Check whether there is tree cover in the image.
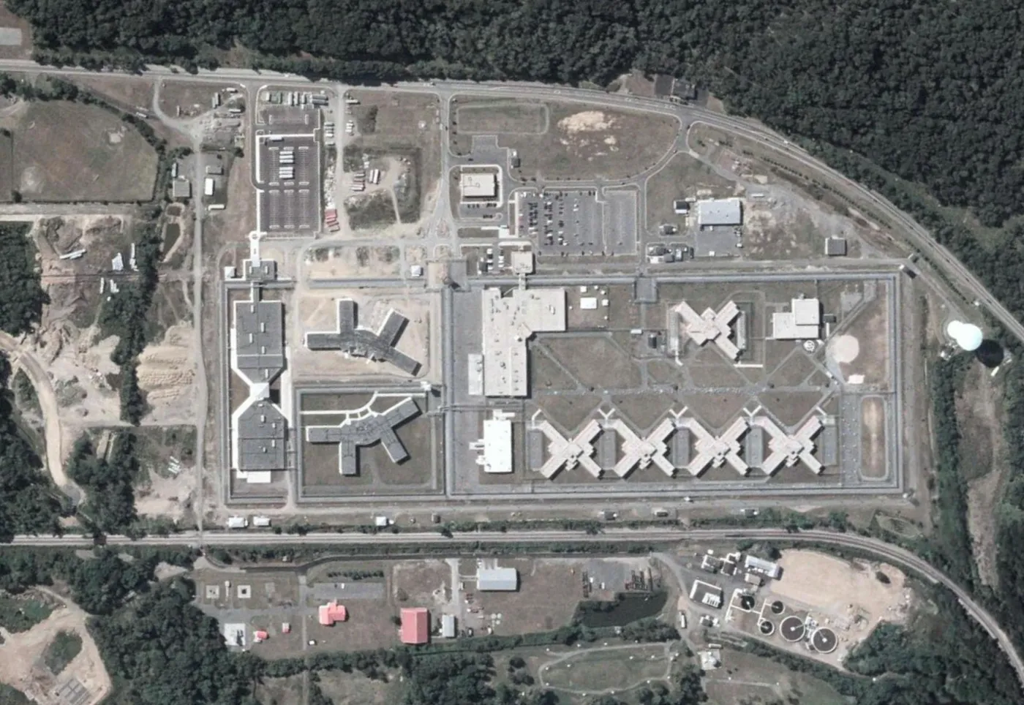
Yes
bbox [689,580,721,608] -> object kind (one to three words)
house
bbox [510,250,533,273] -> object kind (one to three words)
building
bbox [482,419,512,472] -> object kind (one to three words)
building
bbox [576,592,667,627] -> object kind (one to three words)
pond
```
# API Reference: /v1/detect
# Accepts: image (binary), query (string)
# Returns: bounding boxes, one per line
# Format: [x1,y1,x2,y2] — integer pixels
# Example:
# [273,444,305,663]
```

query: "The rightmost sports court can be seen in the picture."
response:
[823,426,837,464]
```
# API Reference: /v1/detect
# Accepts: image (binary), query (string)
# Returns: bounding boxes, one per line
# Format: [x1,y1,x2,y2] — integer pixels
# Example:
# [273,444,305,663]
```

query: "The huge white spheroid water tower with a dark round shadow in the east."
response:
[948,321,982,350]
